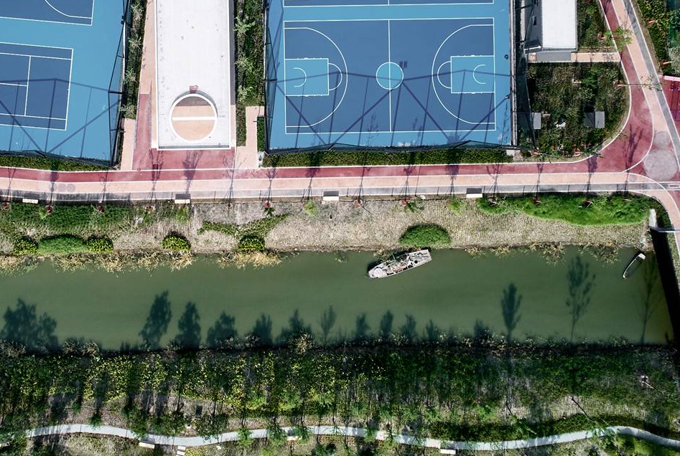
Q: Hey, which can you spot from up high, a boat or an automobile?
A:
boat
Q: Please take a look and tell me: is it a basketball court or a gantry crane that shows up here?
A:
basketball court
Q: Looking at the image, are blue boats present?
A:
No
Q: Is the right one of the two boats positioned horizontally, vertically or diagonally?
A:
diagonally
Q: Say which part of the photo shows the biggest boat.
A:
center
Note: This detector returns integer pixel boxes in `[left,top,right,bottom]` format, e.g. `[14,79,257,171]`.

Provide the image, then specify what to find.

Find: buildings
[151,0,235,150]
[514,0,579,62]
